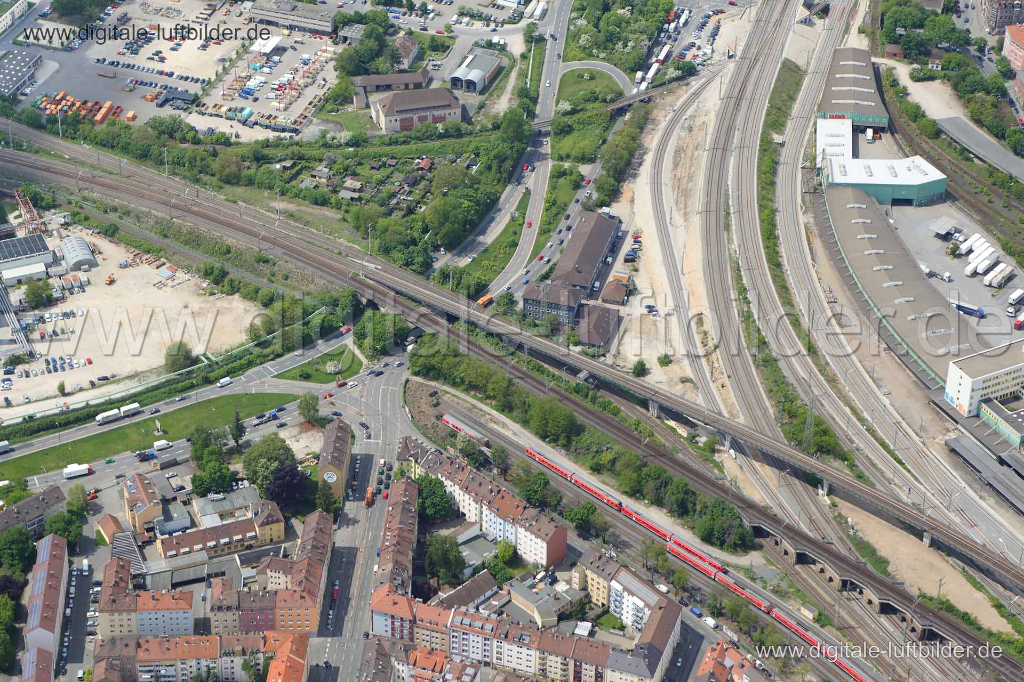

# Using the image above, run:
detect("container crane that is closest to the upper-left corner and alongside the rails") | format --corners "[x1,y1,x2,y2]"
[0,186,42,241]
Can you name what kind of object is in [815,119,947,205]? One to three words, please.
building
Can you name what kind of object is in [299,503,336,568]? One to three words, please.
house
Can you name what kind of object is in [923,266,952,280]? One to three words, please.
vehicle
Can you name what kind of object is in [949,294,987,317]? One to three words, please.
truck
